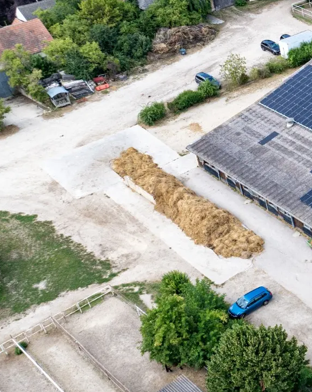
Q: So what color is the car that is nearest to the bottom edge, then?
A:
blue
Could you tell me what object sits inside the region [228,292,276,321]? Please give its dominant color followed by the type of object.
blue car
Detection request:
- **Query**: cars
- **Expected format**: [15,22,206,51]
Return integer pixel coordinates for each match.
[228,292,276,321]
[192,72,221,86]
[276,33,288,45]
[257,41,282,56]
